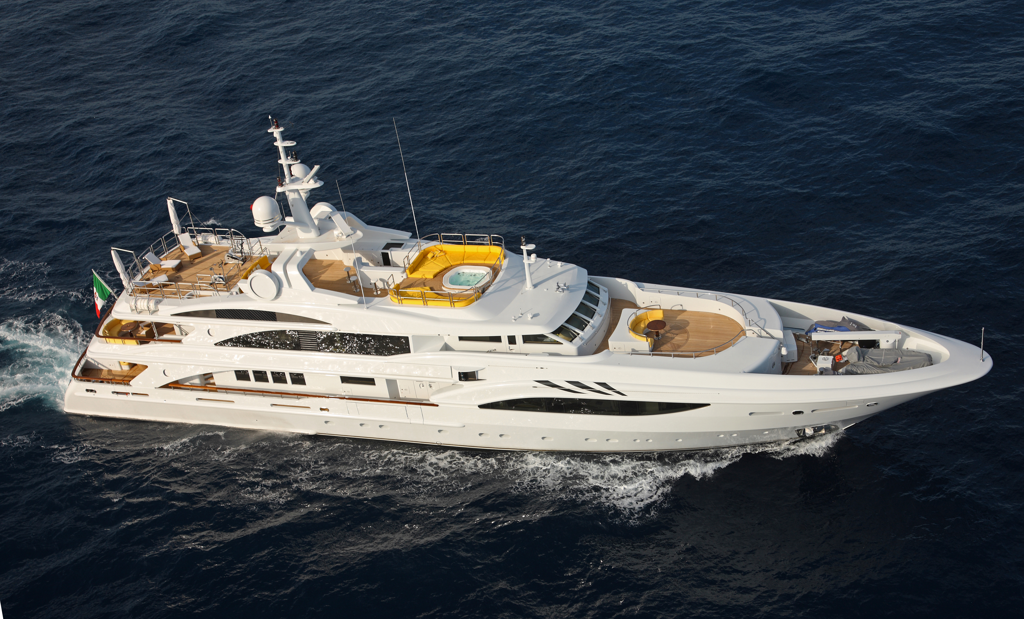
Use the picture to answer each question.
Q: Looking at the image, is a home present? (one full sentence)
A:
No, I can see no home in this picture.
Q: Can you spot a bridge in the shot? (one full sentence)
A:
No, no bridge is visible in the scene.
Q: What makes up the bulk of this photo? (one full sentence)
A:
Most of the picture is covered by water.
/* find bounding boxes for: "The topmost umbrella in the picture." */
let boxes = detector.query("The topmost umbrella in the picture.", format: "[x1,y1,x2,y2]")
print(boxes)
[168,196,212,245]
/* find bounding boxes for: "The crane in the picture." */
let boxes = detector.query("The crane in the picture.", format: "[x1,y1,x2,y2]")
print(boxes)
[807,331,902,356]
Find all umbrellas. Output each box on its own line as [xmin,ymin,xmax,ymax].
[168,196,212,245]
[111,247,151,296]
